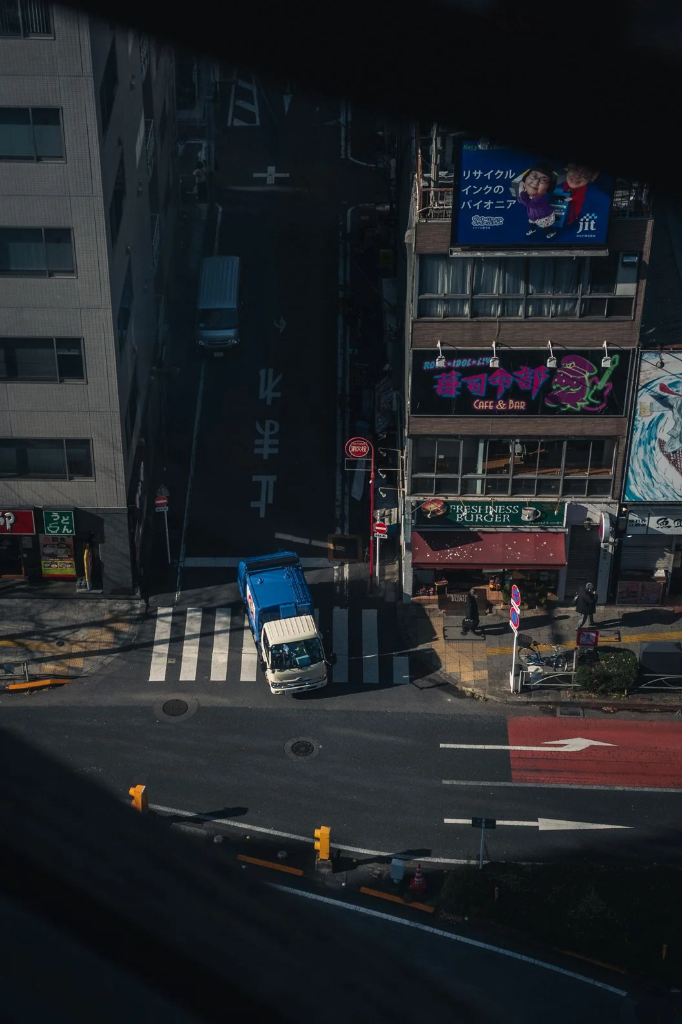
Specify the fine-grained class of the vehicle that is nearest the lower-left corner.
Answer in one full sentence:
In the photo, the vehicle that is nearest the lower-left corner shows up as a truck.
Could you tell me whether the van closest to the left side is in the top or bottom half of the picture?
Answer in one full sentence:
The van closest to the left side is in the top half of the image.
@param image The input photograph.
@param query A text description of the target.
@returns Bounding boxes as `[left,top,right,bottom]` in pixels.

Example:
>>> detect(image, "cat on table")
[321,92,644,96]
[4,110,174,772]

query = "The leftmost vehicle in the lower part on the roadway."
[235,554,336,698]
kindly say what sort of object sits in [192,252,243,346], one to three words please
van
